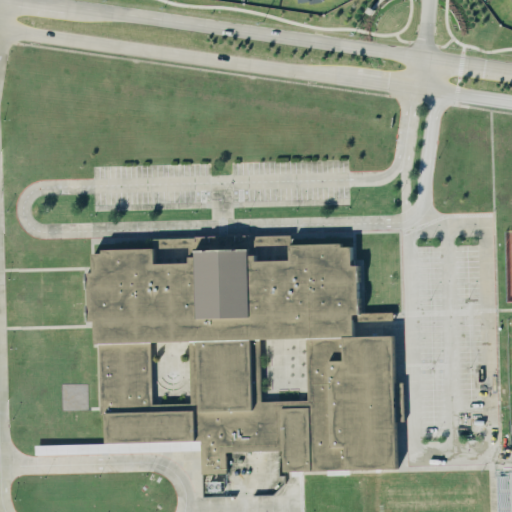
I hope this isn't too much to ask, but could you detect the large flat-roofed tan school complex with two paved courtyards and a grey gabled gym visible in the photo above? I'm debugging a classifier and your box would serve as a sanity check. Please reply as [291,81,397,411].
[86,236,406,476]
